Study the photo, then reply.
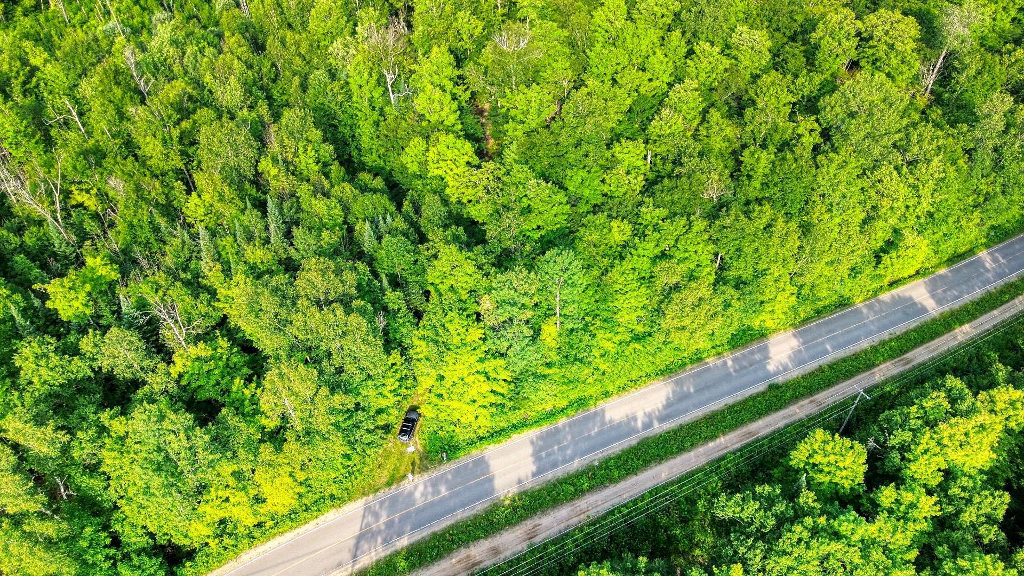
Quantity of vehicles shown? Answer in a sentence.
My tally gives 1 vehicle in this photo.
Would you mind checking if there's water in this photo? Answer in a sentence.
No, no water is visible.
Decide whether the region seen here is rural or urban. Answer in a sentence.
The area is rural.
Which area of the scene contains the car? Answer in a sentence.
You can find the car in the bottom area of the picture.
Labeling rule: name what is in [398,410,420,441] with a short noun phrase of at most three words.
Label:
car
